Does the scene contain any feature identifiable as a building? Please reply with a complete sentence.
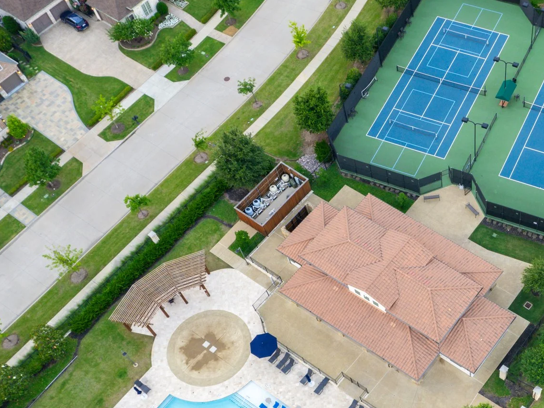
Yes, there is a building in the image.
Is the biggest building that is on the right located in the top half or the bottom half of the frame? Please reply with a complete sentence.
Seen from above, the biggest building that is on the right lies in the bottom half of the view.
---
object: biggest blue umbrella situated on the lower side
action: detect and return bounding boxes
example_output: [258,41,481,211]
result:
[250,333,279,360]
